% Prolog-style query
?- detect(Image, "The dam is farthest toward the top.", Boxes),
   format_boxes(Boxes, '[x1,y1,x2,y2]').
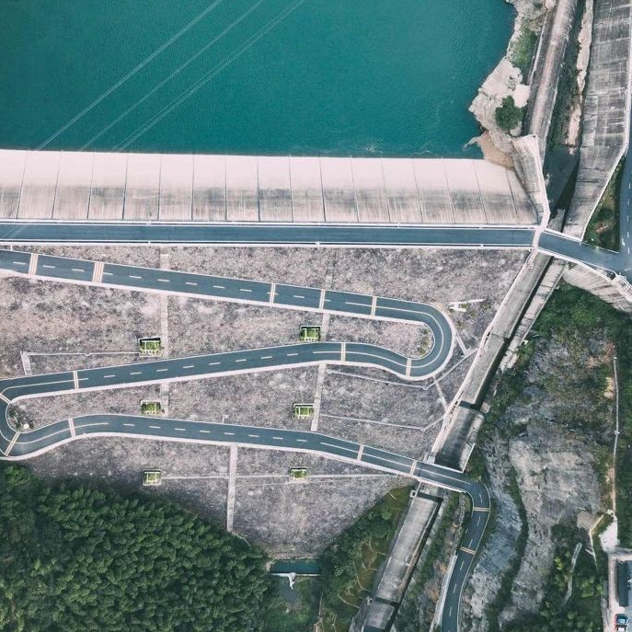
[0,149,539,557]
